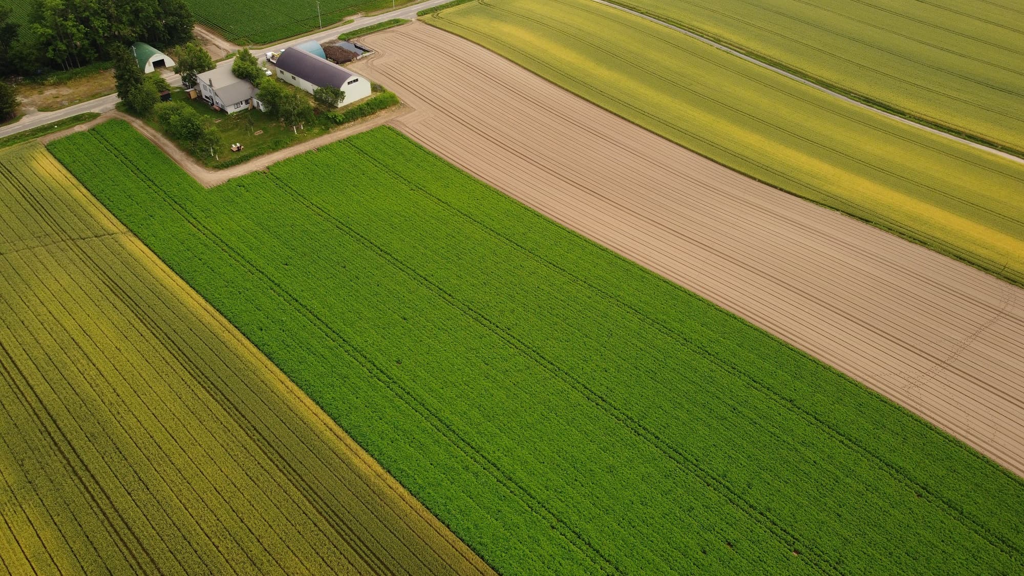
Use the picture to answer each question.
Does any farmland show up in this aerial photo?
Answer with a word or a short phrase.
Yes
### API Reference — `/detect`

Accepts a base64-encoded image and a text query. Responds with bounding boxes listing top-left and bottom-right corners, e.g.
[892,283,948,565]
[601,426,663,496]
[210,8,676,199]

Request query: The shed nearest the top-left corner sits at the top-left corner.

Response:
[125,40,176,73]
